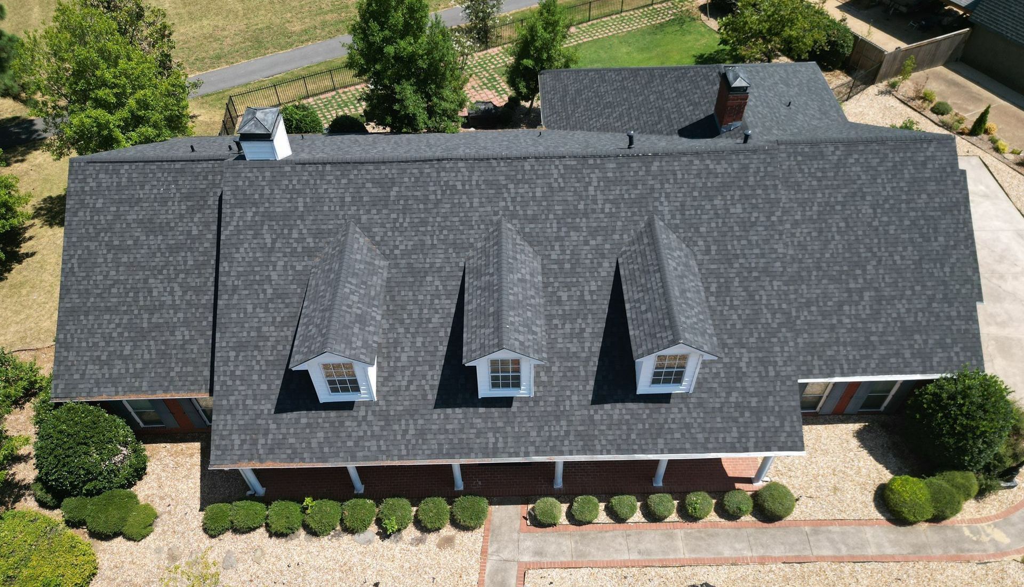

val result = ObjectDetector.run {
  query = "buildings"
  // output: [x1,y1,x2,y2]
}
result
[50,62,987,509]
[954,0,1024,93]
